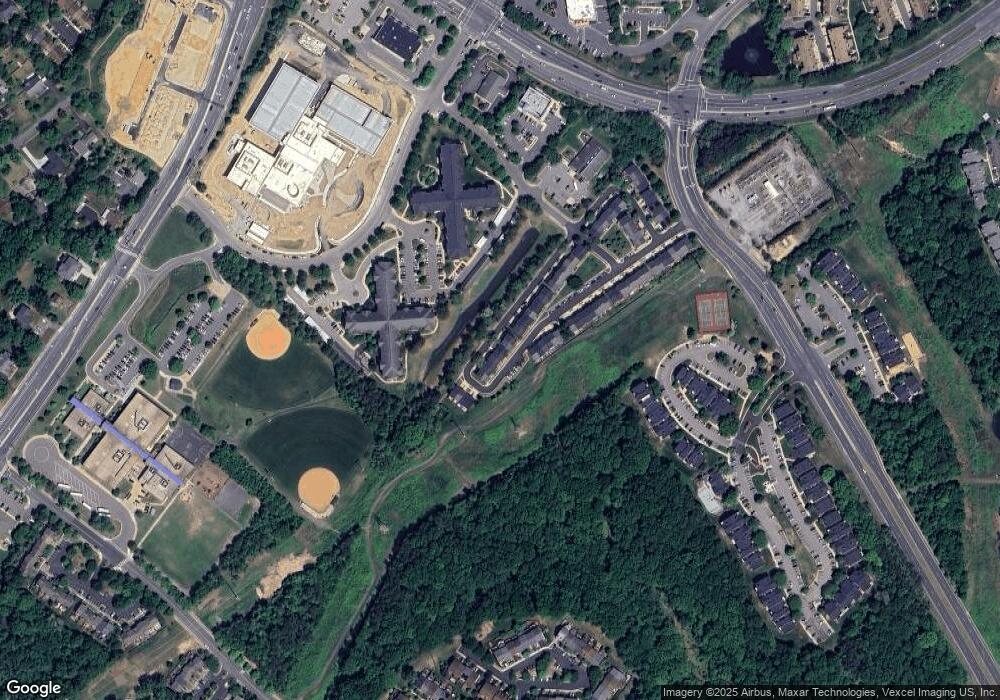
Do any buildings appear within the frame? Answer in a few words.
Yes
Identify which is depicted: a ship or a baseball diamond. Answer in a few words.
baseball diamond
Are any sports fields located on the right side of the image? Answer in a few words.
No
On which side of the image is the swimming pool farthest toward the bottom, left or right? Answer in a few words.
right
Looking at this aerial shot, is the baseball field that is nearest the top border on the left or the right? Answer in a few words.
left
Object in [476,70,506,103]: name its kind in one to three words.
house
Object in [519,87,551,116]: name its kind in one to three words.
building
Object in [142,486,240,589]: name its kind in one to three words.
sports field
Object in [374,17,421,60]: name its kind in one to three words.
building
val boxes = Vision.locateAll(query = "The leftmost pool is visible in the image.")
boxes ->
[698,481,724,514]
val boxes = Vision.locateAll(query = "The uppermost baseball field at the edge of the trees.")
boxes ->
[203,308,335,410]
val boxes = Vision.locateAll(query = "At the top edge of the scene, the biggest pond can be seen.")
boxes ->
[723,21,780,76]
